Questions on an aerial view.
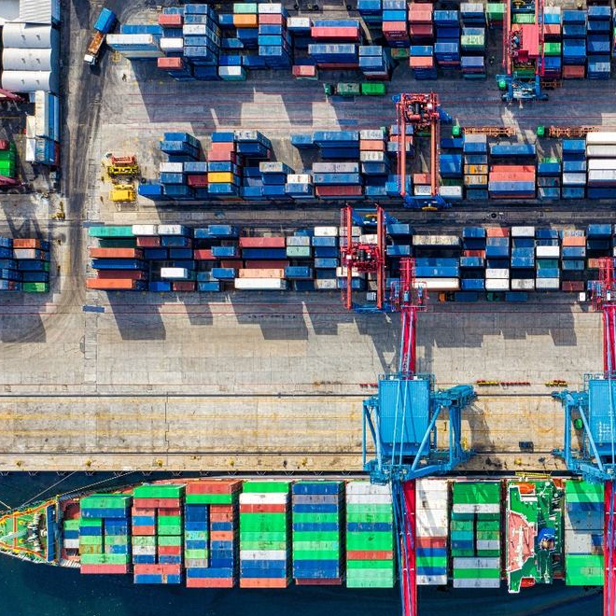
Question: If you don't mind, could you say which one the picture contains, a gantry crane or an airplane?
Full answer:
I can see a gantry crane in this picture.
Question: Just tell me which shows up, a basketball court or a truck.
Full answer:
The image shows a truck.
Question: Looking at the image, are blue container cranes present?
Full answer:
Yes, the frame does contain a blue container crane.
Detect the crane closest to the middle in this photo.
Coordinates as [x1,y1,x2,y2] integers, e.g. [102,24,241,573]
[342,202,406,316]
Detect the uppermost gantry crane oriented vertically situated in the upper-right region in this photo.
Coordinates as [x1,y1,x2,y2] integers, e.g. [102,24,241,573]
[502,0,547,104]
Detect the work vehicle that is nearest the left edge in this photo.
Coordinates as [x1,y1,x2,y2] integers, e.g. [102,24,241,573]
[54,203,66,219]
